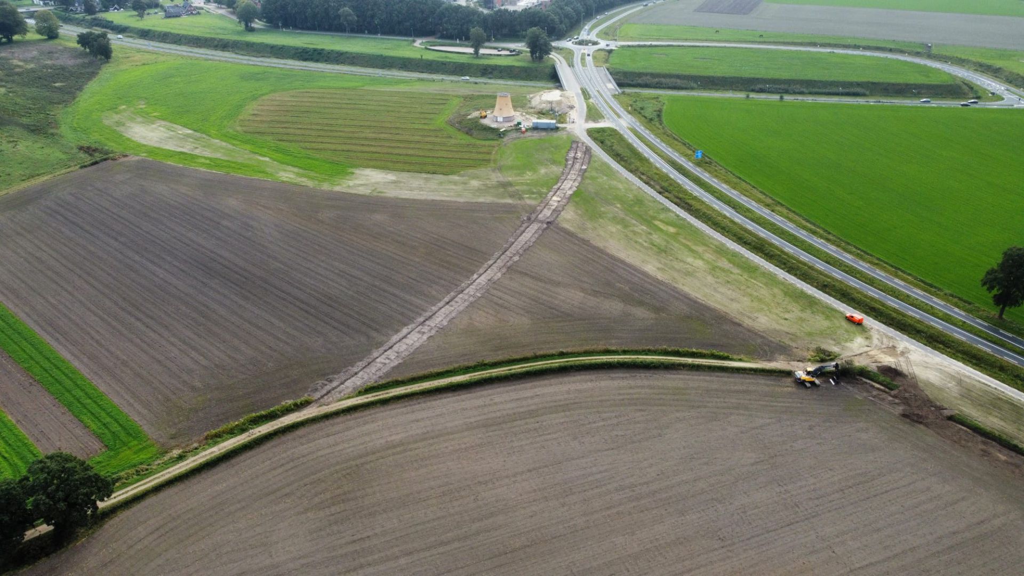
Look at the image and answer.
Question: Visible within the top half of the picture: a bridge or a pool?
bridge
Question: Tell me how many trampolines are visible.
zero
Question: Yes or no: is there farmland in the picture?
Yes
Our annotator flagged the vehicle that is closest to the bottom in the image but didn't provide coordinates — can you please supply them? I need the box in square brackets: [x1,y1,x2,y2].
[795,361,840,385]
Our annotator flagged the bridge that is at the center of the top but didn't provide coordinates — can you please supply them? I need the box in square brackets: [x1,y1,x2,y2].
[555,60,622,95]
